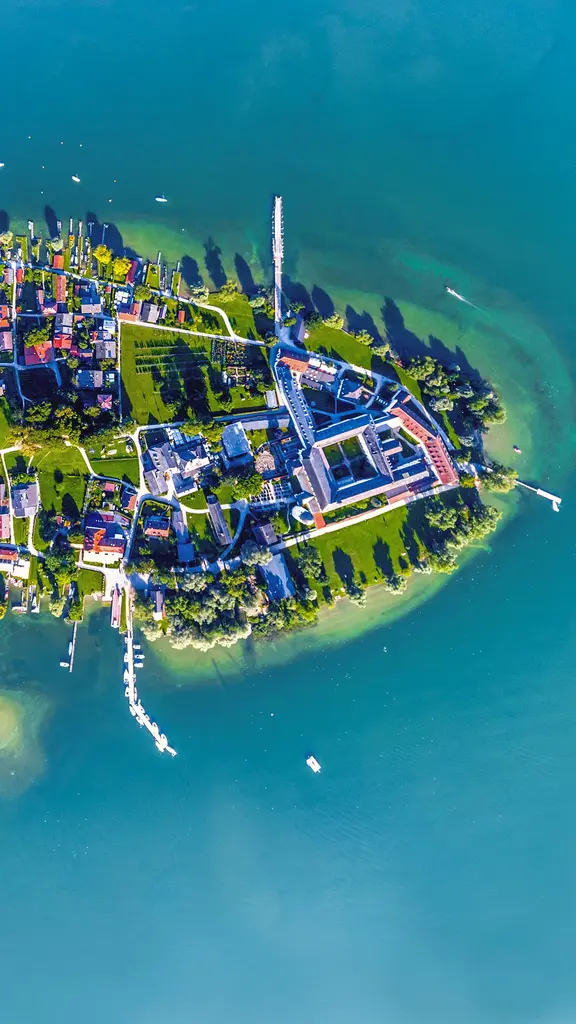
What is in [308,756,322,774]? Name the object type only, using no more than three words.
boat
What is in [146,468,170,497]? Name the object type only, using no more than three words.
house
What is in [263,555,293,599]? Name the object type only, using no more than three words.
building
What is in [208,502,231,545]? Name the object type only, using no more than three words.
barn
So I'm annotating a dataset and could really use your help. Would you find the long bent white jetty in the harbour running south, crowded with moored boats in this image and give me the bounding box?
[125,628,165,747]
